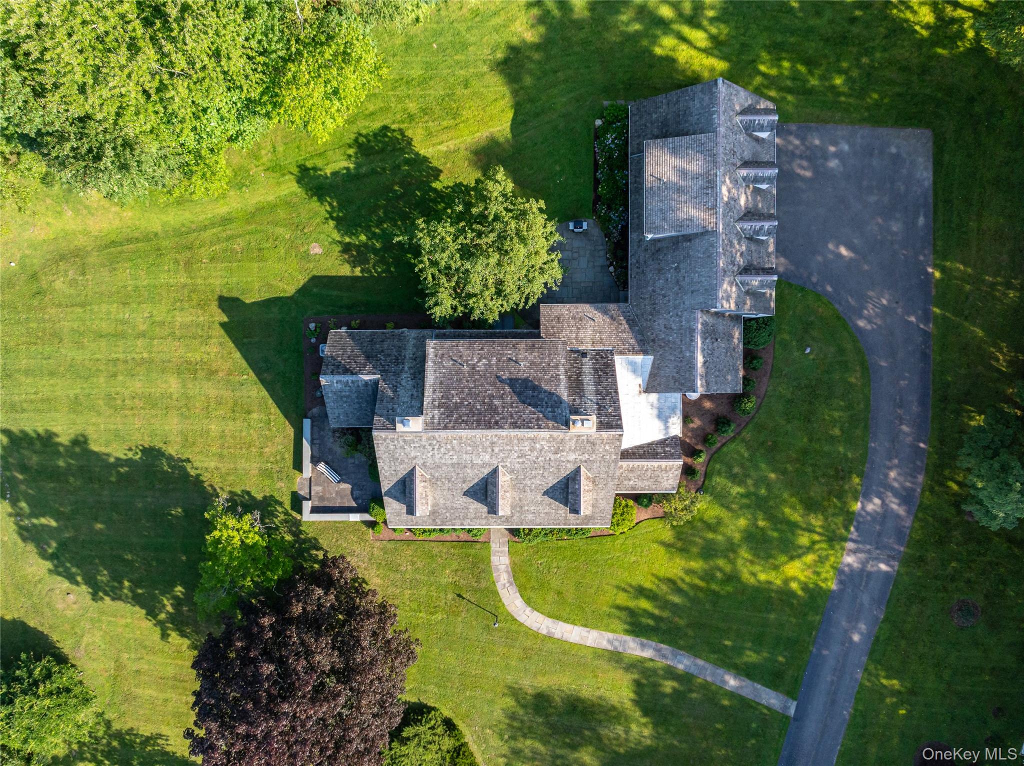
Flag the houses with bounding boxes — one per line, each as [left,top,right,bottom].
[320,78,778,530]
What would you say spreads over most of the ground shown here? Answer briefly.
grass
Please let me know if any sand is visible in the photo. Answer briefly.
No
